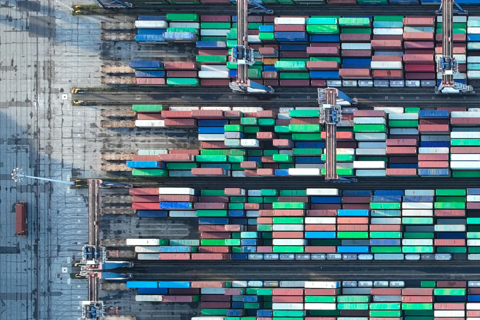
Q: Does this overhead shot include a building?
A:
No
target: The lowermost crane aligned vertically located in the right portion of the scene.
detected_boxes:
[314,86,361,184]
